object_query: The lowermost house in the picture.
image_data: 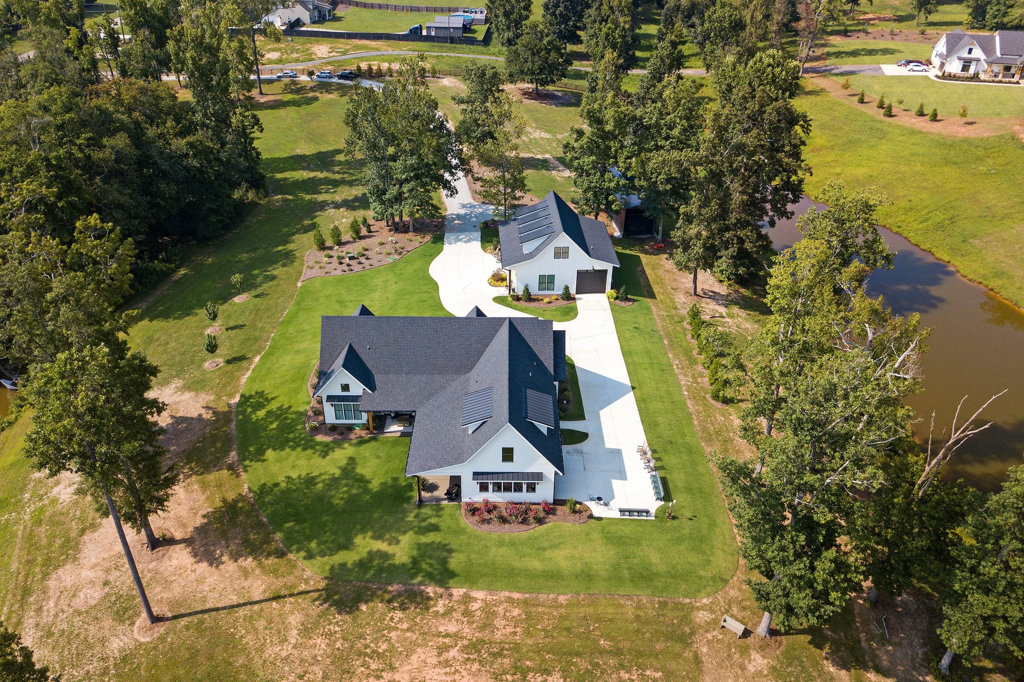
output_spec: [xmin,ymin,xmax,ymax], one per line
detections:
[310,304,567,506]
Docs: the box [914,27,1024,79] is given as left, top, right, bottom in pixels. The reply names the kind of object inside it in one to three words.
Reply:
house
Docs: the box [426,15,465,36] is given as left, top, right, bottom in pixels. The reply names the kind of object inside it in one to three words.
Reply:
shed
